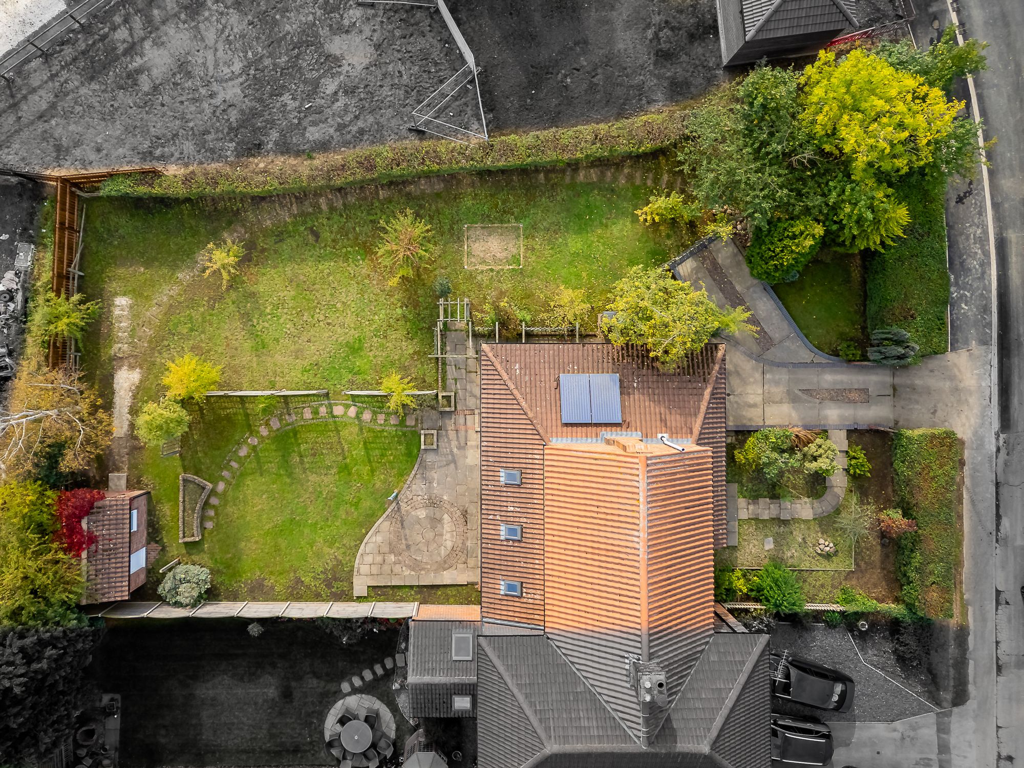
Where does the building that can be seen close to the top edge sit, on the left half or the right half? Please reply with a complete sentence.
The building that can be seen close to the top edge is on the right side of the image.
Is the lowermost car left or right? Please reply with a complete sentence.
The lowermost car is on the right side of the image.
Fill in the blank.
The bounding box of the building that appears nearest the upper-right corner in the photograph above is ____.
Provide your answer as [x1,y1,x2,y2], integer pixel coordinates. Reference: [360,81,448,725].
[712,0,862,65]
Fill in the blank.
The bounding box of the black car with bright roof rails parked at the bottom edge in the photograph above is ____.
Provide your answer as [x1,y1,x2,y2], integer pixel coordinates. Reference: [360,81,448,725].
[765,721,836,768]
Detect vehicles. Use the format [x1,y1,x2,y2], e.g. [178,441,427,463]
[766,642,860,709]
[765,721,836,768]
